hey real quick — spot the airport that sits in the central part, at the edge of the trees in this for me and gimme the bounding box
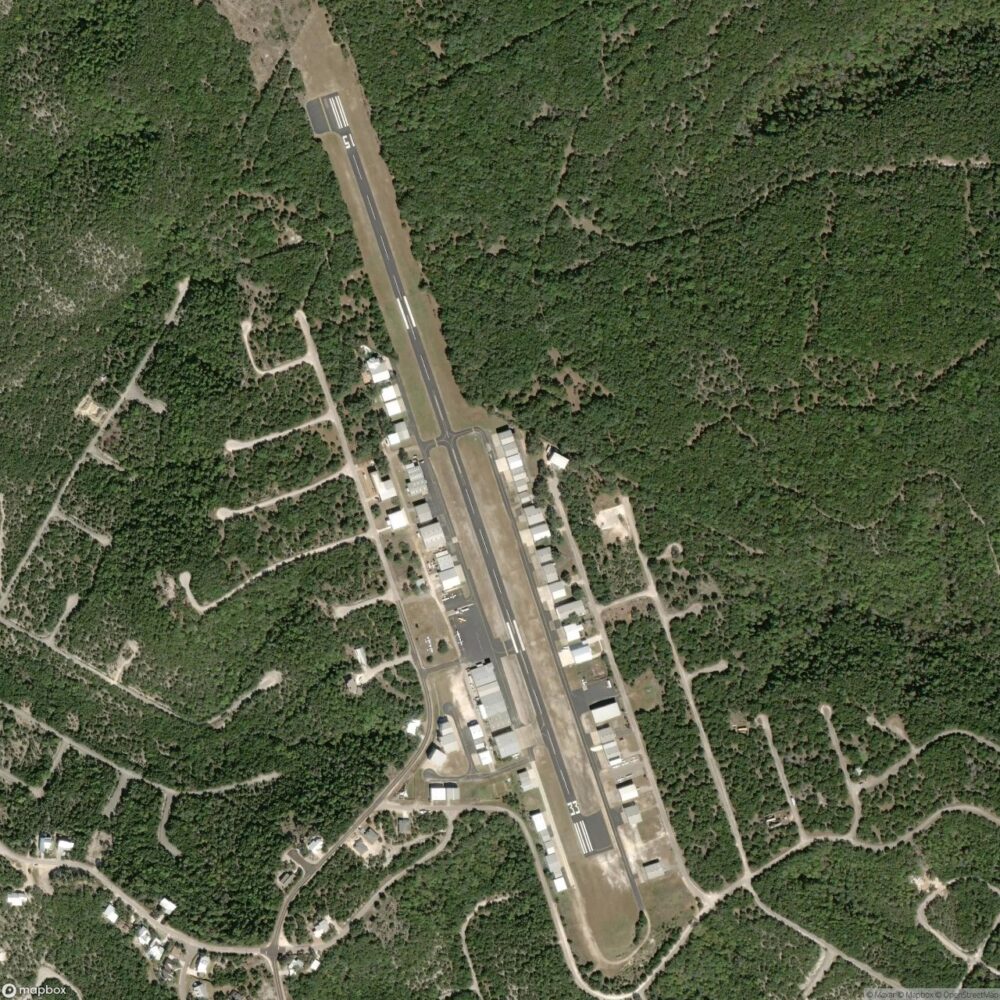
[291,6,697,978]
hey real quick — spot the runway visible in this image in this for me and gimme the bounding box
[331,94,593,854]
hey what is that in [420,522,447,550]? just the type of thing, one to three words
hangar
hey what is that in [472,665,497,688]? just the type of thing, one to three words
hangar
